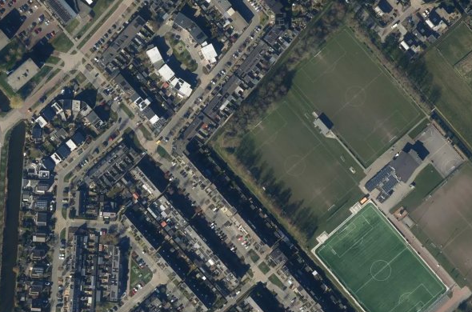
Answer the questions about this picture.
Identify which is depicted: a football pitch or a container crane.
football pitch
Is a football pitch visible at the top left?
No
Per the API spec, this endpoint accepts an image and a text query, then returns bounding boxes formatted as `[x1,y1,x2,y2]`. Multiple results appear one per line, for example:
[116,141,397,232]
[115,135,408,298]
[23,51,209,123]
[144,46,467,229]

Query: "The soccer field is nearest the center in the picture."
[239,90,366,225]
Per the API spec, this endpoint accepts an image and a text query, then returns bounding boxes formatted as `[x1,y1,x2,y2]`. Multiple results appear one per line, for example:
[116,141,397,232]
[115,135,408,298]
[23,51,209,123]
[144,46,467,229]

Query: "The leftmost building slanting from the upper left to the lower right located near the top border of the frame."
[45,0,78,28]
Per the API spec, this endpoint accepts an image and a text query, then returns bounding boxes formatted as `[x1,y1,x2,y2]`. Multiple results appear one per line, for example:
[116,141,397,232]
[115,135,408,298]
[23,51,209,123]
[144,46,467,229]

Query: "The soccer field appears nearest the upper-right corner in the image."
[289,26,422,165]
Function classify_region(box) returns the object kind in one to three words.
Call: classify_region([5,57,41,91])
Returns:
building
